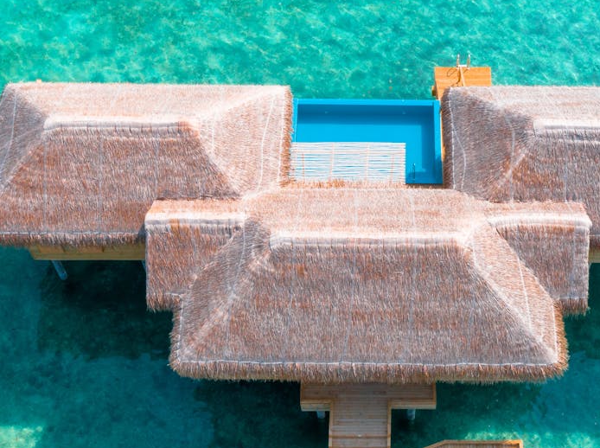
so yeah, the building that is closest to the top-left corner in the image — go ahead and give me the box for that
[0,82,297,293]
